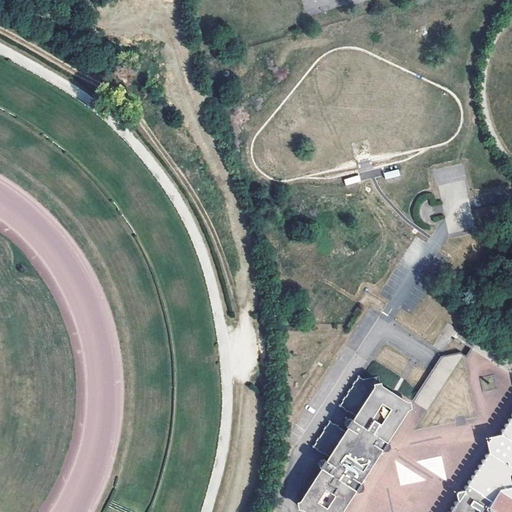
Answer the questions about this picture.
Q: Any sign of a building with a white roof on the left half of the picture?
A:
No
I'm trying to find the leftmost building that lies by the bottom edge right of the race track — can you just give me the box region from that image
[298,376,412,512]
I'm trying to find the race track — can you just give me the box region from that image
[0,173,124,512]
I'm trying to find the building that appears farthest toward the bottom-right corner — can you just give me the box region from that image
[448,410,512,512]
